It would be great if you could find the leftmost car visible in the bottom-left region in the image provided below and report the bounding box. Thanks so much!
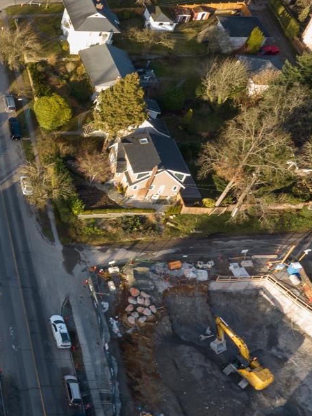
[51,317,74,353]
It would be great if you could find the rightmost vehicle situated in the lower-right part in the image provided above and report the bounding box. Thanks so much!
[197,330,285,394]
